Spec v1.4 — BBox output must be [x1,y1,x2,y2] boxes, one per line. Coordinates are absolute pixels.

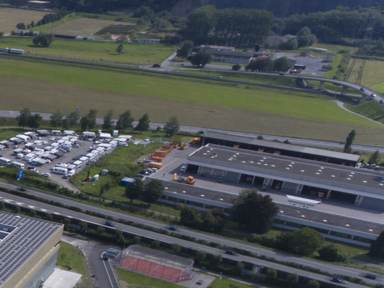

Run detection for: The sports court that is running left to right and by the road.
[117,239,197,283]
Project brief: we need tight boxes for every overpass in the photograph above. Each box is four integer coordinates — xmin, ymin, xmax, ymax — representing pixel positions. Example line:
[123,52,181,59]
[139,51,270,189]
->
[171,69,384,110]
